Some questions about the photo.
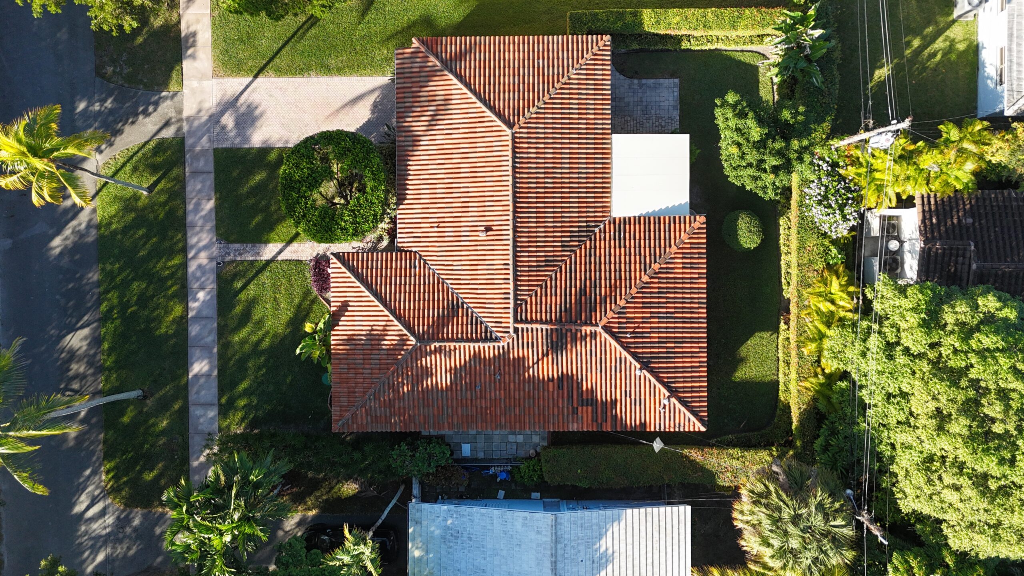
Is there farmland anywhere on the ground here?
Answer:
No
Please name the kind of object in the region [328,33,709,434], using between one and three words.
house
